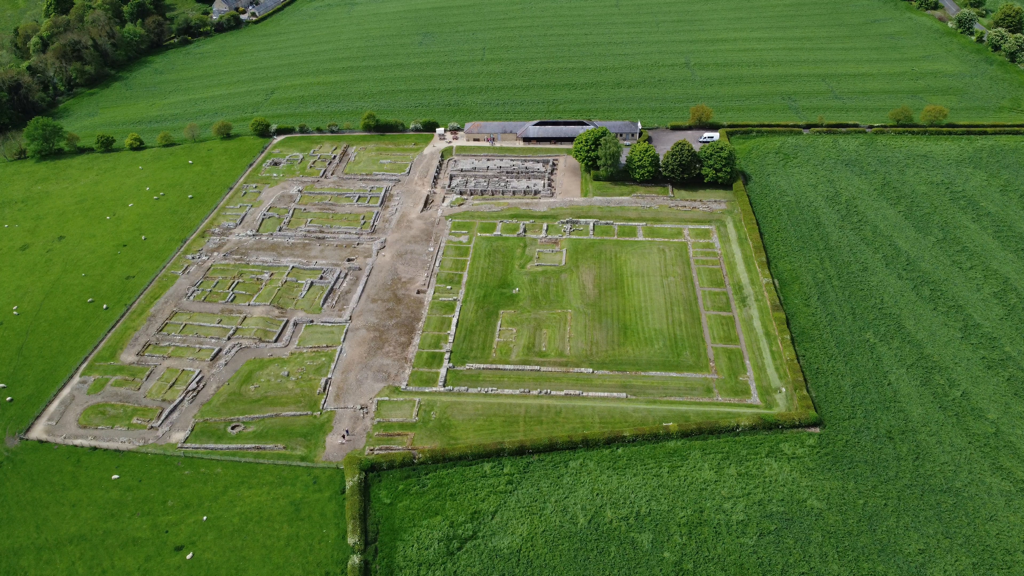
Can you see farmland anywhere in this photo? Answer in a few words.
Yes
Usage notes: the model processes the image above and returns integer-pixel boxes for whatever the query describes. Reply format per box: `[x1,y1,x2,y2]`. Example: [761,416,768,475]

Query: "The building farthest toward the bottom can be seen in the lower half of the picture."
[365,431,437,455]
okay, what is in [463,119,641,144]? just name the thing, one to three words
building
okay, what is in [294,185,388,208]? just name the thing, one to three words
building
